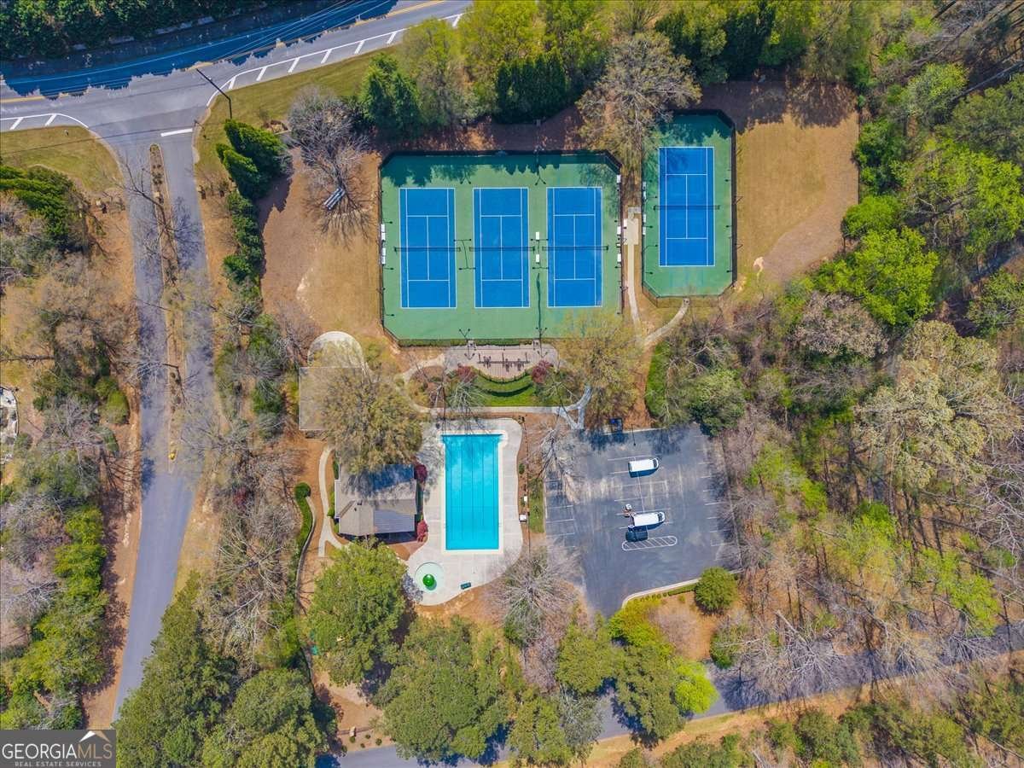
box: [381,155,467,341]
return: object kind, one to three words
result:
tennis court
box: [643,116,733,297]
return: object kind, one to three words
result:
tennis court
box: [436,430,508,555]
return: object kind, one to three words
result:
swimming pool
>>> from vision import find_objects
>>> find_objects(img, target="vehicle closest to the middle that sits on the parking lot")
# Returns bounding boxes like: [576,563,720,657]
[629,459,660,473]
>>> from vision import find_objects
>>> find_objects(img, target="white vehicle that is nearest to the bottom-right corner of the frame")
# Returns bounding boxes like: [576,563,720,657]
[631,514,665,532]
